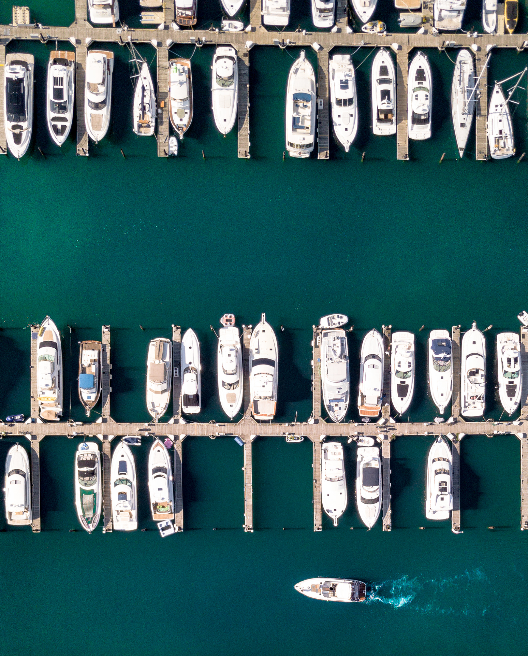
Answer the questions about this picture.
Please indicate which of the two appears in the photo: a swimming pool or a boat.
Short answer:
boat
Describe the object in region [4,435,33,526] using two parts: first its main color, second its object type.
white boat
